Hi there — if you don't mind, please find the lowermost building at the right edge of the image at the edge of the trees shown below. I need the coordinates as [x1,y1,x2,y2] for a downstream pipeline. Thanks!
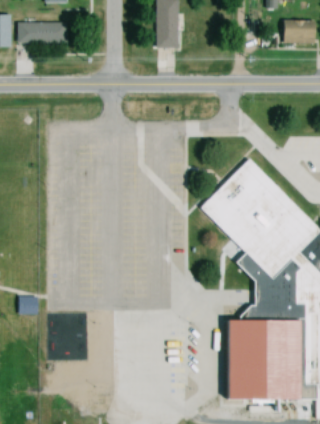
[202,158,320,420]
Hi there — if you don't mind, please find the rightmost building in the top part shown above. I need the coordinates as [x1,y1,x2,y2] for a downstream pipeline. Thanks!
[284,18,318,48]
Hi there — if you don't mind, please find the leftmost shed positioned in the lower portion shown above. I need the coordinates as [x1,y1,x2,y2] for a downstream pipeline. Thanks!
[18,295,38,314]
